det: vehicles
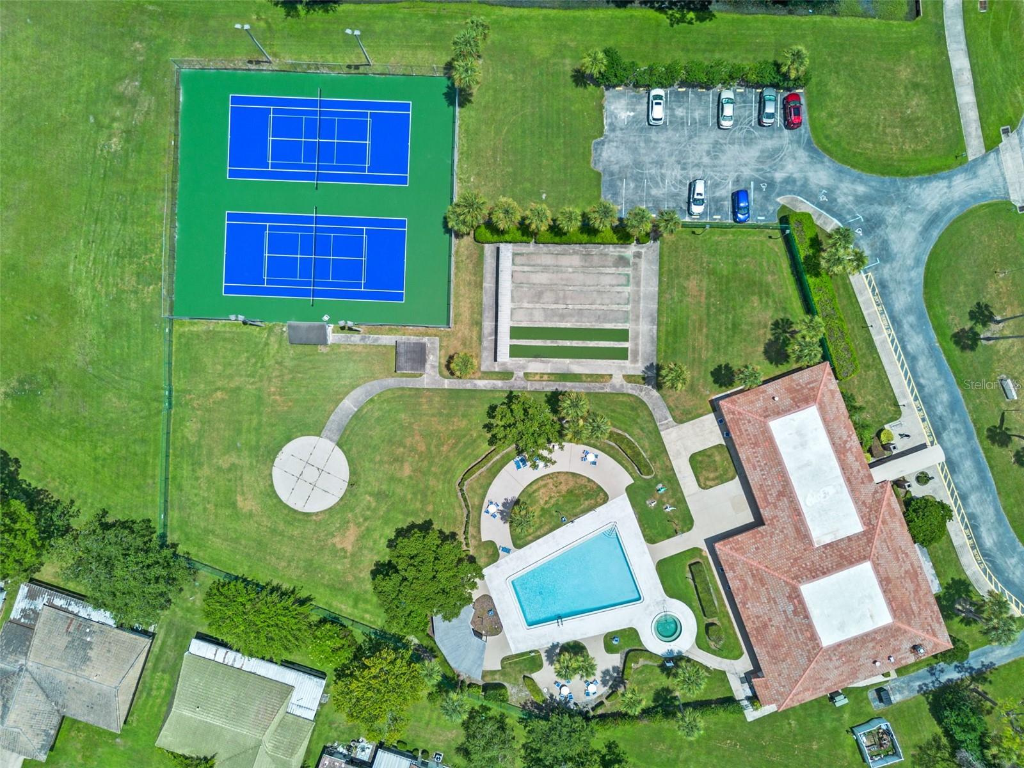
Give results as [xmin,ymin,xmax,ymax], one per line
[717,91,736,130]
[758,89,777,128]
[688,179,706,216]
[648,90,666,126]
[783,93,803,131]
[732,188,751,222]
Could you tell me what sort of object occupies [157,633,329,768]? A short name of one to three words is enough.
house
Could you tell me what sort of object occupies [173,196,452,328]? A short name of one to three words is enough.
tennis court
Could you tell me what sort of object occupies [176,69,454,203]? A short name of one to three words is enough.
tennis court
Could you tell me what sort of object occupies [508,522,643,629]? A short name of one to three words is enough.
swimming pool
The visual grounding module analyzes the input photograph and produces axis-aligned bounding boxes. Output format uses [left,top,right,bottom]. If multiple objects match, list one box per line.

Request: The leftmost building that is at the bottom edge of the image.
[0,579,161,763]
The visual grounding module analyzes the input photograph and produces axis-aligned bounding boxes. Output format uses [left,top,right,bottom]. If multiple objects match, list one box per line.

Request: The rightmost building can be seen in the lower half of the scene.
[714,362,954,712]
